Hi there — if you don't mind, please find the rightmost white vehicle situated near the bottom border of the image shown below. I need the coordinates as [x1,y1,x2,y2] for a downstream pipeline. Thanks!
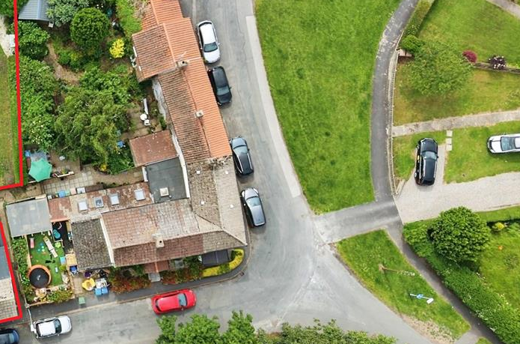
[31,314,72,338]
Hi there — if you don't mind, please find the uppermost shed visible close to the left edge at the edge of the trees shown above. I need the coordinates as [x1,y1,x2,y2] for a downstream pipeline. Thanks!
[18,0,50,23]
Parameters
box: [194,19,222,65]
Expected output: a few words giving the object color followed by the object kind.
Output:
white car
